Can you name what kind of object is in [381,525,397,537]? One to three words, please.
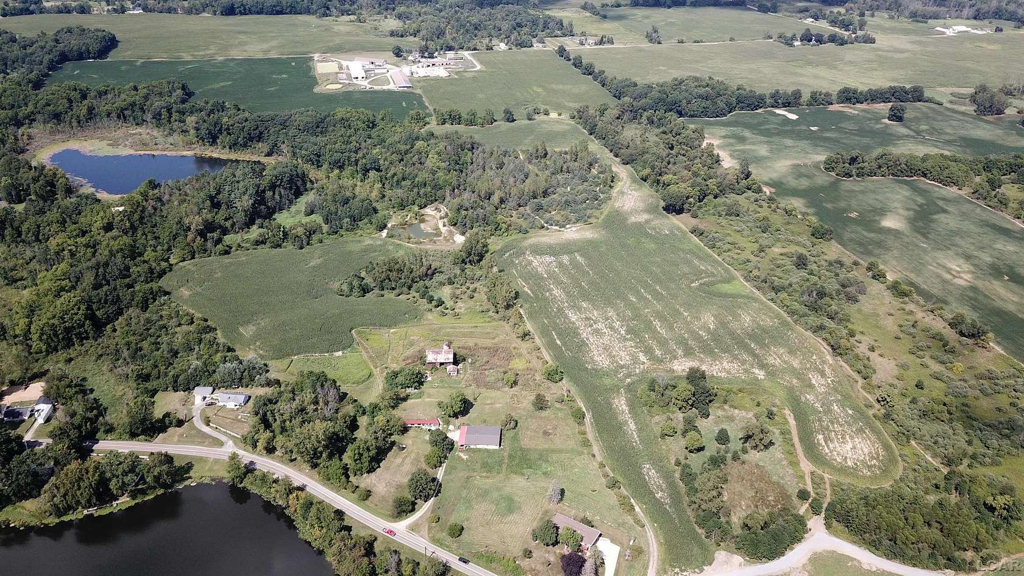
vehicle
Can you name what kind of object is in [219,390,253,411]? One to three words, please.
house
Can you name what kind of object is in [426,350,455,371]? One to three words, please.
barn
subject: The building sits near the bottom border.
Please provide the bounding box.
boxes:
[547,511,601,557]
